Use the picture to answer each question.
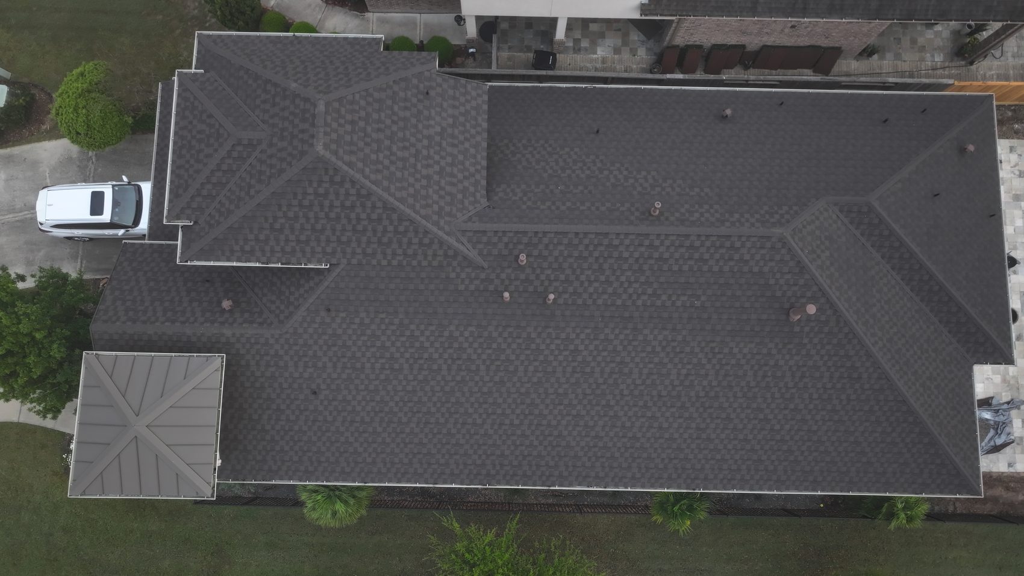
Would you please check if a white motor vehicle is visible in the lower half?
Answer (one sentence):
No, I see no white motor vehicle in the lower half.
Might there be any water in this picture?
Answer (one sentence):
No, water can't be seen anywhere here.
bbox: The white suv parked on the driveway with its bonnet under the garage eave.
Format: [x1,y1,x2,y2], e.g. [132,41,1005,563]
[34,177,149,239]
